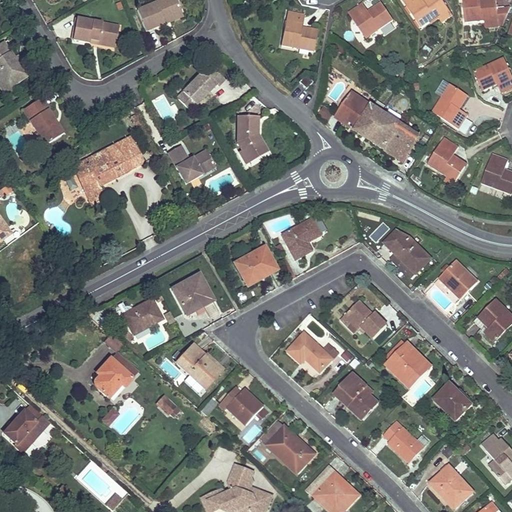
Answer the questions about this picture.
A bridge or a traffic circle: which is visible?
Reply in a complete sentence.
The image shows a traffic circle.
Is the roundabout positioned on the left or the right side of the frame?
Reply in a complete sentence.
The roundabout appears in the right half of the scene.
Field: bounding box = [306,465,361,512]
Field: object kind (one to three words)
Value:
house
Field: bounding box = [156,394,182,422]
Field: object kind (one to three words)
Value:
shed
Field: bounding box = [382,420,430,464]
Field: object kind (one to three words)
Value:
house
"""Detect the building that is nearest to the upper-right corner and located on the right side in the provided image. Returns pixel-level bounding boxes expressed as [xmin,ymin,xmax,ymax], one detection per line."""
[462,0,512,28]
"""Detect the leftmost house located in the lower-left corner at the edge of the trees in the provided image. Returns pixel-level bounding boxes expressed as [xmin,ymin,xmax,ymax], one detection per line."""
[7,405,50,448]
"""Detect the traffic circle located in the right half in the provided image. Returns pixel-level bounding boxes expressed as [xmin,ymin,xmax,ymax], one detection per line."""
[308,148,360,199]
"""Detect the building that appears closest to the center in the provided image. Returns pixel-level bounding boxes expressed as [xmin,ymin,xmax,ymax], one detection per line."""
[233,243,280,287]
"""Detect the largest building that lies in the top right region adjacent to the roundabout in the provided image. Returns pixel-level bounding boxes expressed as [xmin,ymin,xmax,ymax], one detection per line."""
[332,90,421,162]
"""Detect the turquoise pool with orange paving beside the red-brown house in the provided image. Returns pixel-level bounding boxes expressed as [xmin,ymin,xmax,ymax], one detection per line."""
[6,126,23,152]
